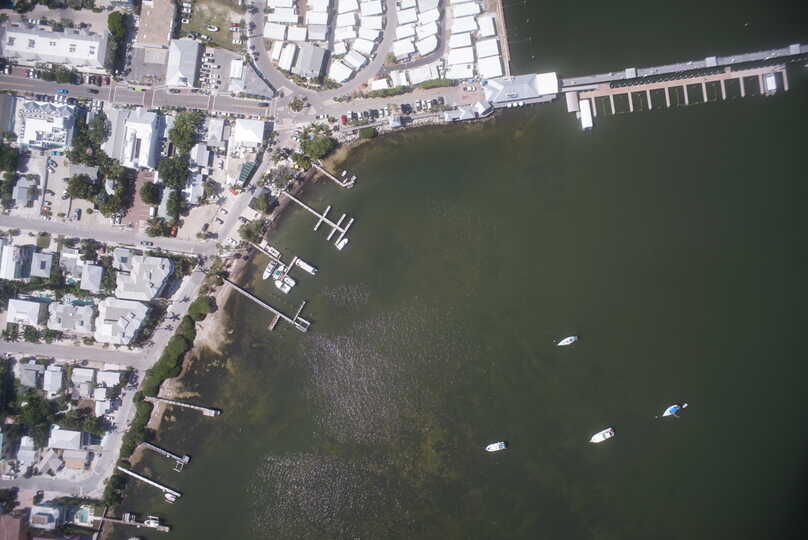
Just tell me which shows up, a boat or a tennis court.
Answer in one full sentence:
It is a boat that can be seen here.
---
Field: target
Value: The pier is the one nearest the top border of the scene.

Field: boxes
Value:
[559,42,808,88]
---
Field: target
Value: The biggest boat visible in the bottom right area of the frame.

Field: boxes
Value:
[589,427,616,444]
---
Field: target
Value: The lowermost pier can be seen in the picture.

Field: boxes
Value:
[92,514,170,534]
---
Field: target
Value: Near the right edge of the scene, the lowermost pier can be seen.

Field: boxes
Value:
[561,65,791,116]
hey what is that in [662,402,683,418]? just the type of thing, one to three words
boat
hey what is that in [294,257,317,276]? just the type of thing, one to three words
boat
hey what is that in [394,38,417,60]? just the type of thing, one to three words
house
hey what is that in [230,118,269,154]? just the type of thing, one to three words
building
